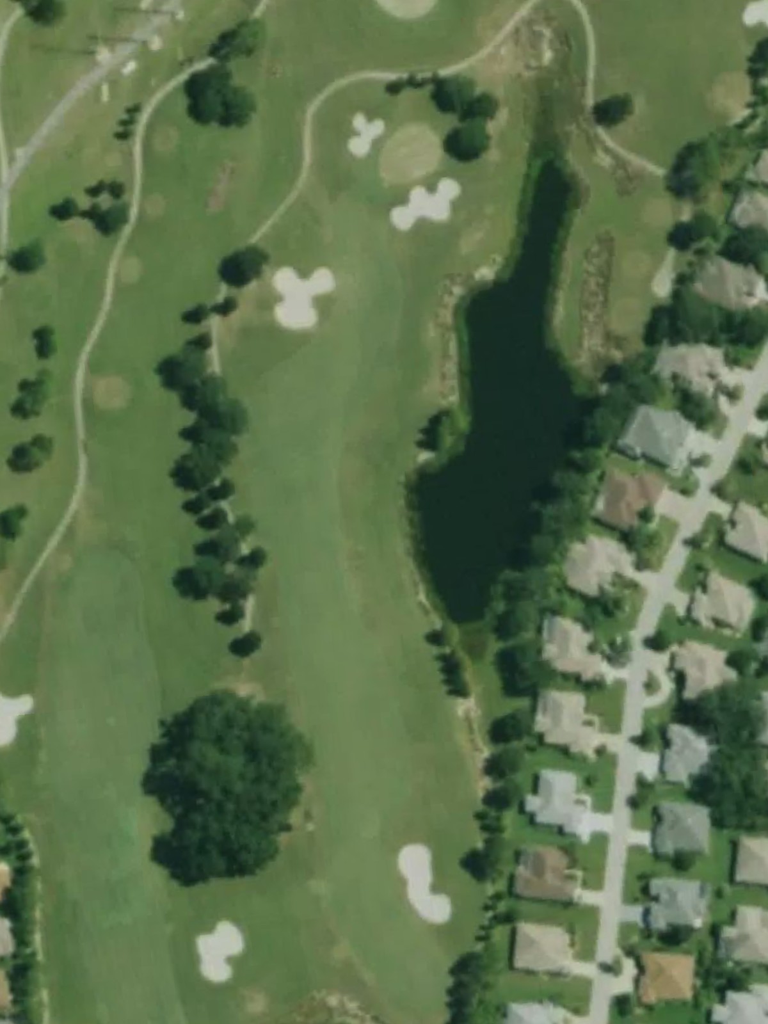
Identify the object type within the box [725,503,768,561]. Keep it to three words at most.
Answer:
house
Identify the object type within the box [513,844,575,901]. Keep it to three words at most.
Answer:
house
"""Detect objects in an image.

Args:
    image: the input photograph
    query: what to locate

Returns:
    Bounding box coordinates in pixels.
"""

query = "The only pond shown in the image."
[415,161,591,623]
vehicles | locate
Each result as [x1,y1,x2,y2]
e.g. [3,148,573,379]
[122,59,137,73]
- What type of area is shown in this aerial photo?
golf course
